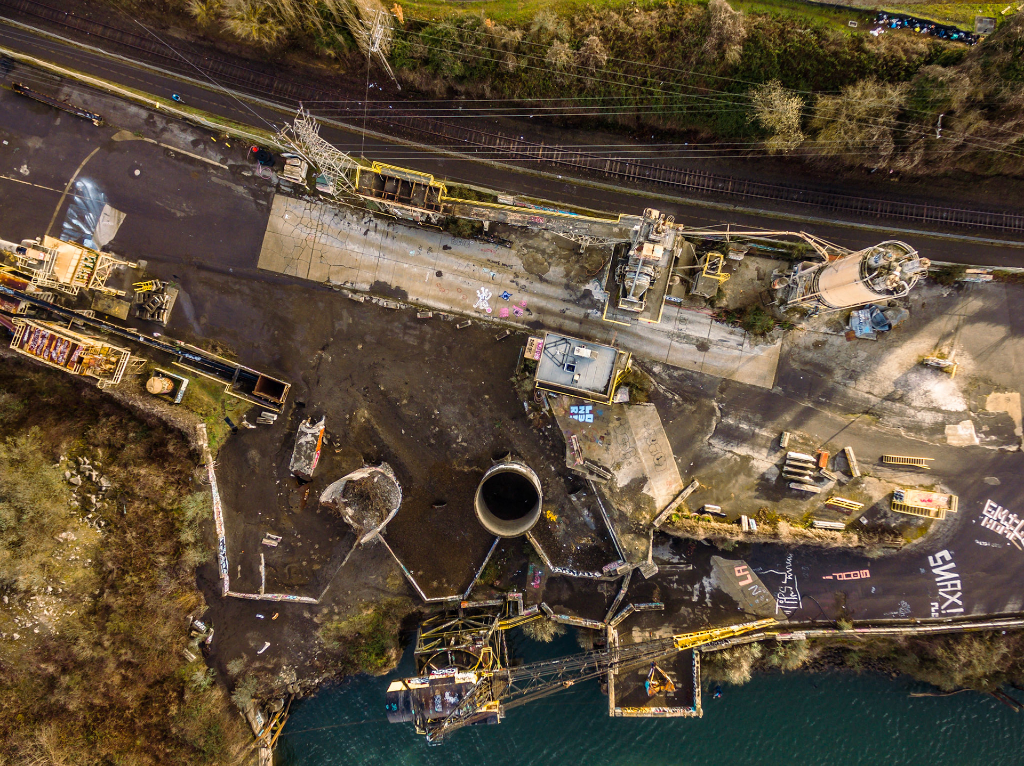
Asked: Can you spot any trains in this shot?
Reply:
No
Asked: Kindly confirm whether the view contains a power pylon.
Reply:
Yes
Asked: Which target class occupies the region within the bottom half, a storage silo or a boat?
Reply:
storage silo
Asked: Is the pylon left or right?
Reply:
left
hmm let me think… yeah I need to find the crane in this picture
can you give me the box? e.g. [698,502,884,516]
[385,600,780,747]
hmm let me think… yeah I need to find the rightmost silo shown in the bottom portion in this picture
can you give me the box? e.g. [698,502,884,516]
[473,457,544,535]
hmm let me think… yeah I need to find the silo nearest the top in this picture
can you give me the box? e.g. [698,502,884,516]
[780,229,944,321]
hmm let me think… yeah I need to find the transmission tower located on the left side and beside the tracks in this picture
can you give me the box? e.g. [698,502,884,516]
[284,101,374,199]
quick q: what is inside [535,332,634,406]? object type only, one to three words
shed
